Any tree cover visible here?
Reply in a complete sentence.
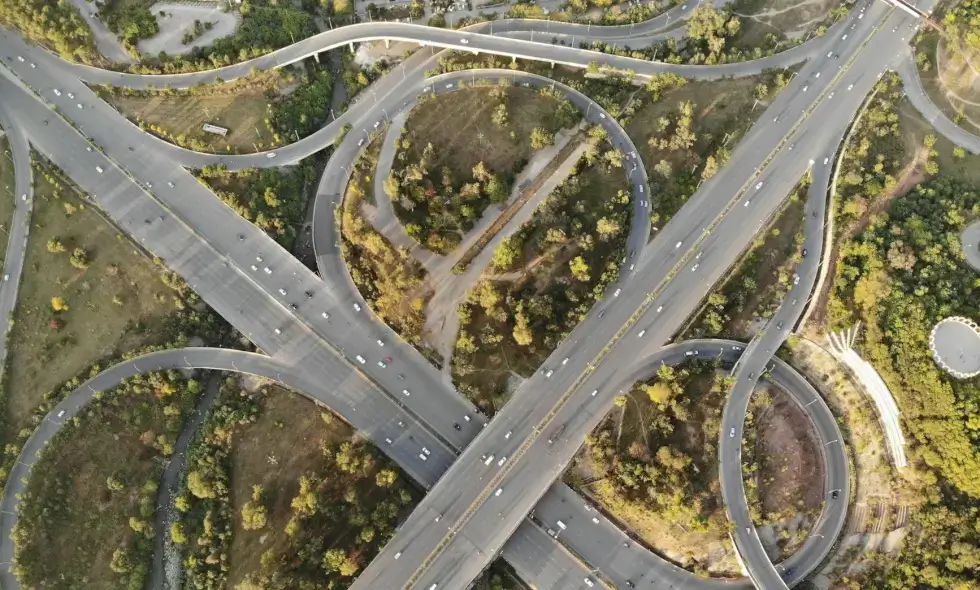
Yes, tree cover can be seen from above here.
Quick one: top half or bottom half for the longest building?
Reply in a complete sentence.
You can find the longest building in the bottom half.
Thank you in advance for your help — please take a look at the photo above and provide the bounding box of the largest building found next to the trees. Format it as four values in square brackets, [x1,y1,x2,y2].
[827,320,906,468]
